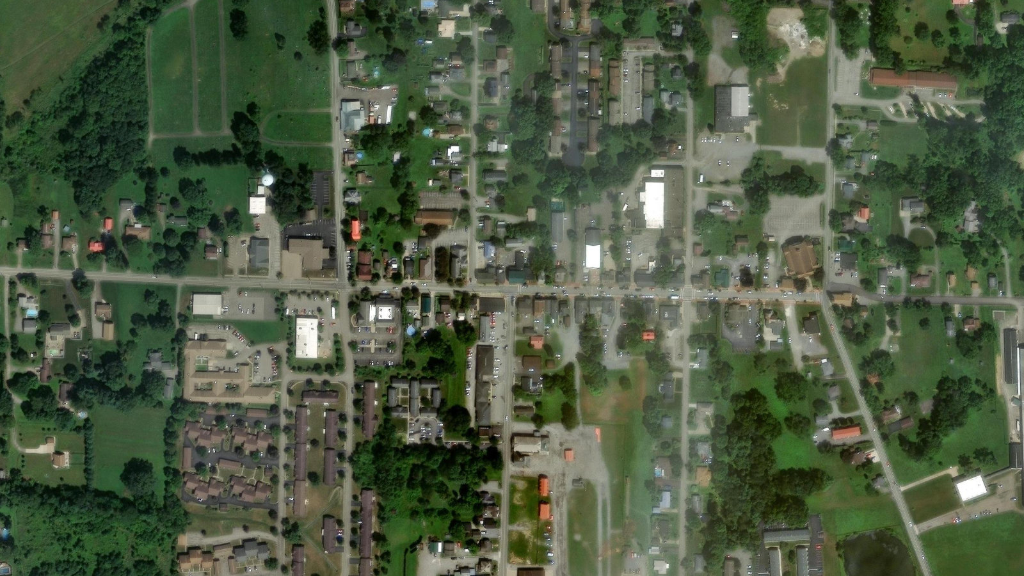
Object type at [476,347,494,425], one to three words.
building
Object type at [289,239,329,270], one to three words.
building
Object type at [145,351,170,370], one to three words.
house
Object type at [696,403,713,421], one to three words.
house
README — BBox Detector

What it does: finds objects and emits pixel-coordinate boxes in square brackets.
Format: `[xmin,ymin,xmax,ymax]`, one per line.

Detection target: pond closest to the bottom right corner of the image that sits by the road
[839,529,919,576]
